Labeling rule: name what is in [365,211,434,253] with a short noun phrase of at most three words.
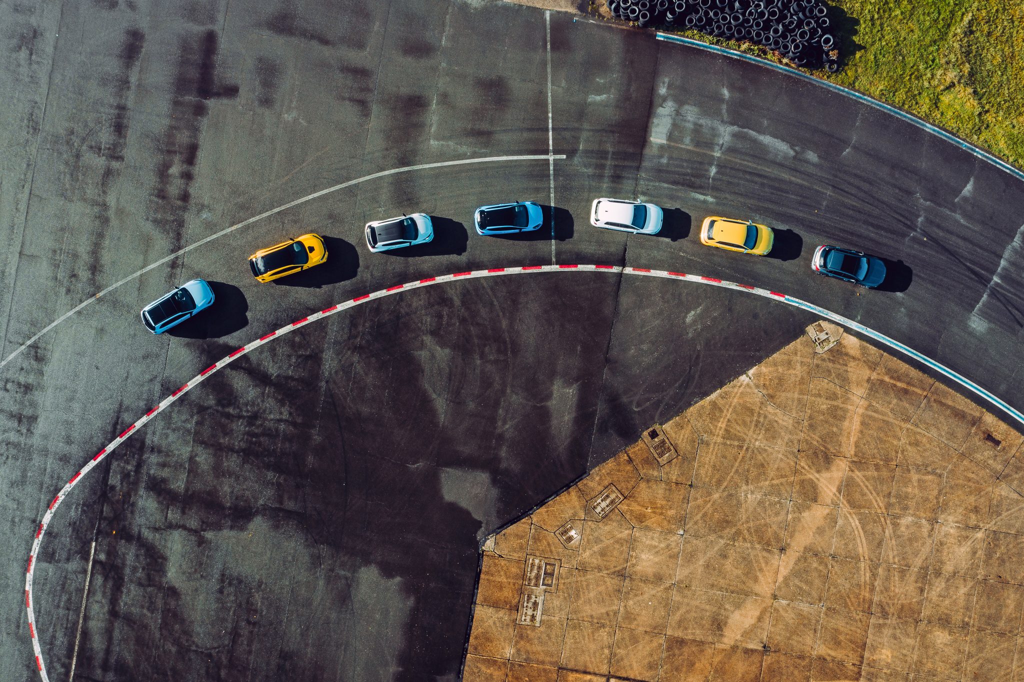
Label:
car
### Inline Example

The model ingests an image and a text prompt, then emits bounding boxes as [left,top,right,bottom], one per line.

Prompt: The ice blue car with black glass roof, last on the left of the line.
[141,278,216,334]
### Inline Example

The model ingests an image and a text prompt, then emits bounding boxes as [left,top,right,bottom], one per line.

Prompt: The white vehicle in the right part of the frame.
[590,198,663,236]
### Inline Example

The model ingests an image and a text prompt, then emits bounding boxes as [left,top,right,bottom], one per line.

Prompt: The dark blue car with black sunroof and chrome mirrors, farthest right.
[810,245,886,288]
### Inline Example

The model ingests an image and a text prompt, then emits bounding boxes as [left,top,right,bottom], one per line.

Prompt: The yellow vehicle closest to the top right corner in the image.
[699,216,773,256]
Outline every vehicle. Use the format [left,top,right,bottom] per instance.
[810,245,886,288]
[699,216,773,256]
[365,211,434,253]
[474,198,543,237]
[141,278,216,334]
[590,198,663,236]
[249,234,328,283]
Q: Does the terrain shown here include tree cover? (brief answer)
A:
No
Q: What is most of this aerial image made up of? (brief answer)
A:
paved ground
